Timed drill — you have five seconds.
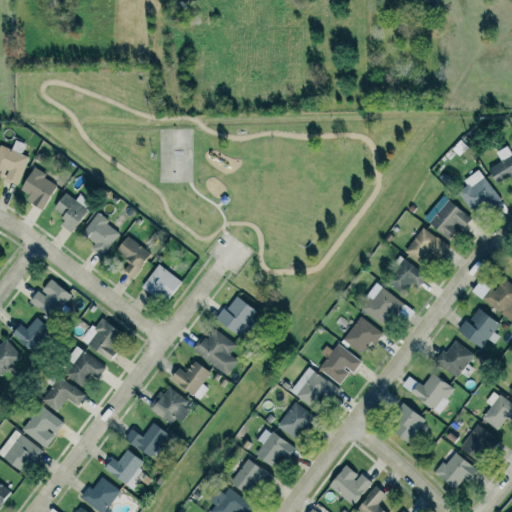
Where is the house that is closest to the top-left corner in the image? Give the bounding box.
[0,141,29,185]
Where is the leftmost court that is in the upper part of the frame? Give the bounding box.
[160,129,194,183]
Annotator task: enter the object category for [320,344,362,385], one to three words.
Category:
house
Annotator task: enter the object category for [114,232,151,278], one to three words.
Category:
house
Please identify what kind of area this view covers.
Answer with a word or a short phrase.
residential area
